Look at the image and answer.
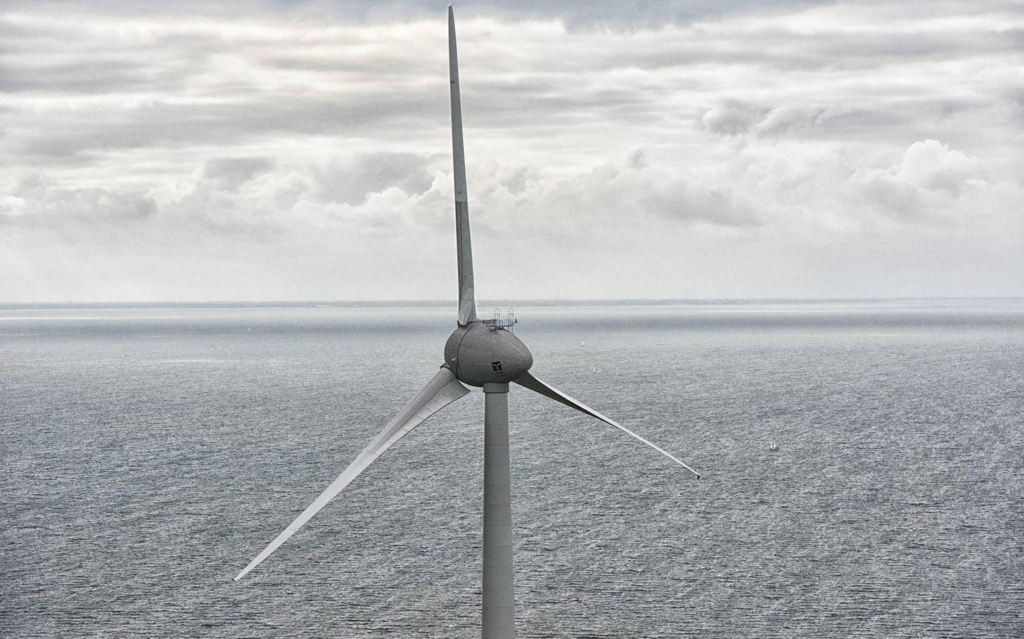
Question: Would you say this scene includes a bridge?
No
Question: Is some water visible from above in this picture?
Yes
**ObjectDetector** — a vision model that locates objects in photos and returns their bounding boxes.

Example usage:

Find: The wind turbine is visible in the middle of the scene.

[234,5,700,639]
